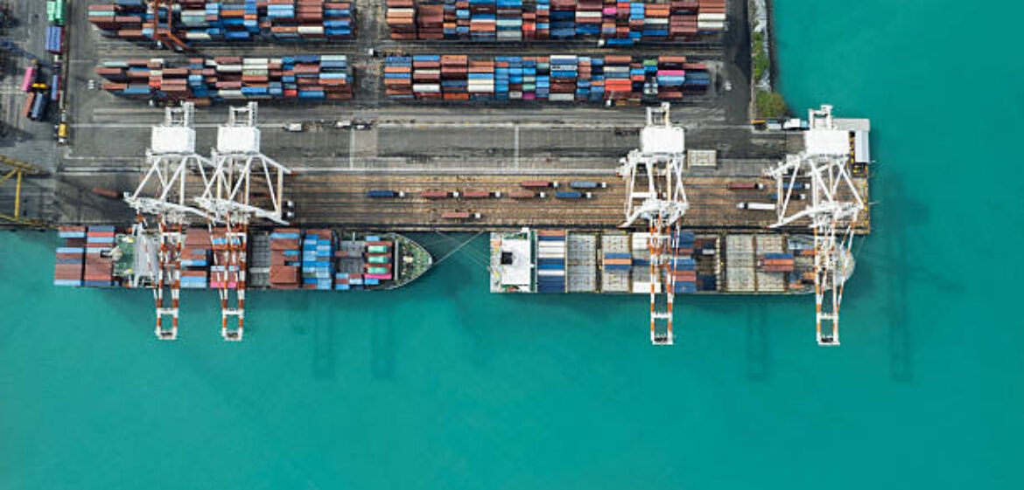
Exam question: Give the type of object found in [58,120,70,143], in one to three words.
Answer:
vehicle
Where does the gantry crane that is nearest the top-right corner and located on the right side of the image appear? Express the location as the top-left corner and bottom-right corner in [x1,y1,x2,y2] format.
[759,106,869,346]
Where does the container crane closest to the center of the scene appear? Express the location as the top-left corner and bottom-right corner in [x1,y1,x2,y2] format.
[615,105,690,345]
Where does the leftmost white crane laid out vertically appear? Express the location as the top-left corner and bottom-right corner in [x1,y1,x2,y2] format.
[128,101,244,341]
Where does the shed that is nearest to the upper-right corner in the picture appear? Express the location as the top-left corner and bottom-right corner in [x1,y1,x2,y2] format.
[856,130,873,162]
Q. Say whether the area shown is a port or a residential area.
port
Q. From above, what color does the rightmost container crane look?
white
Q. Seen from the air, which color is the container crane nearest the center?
white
